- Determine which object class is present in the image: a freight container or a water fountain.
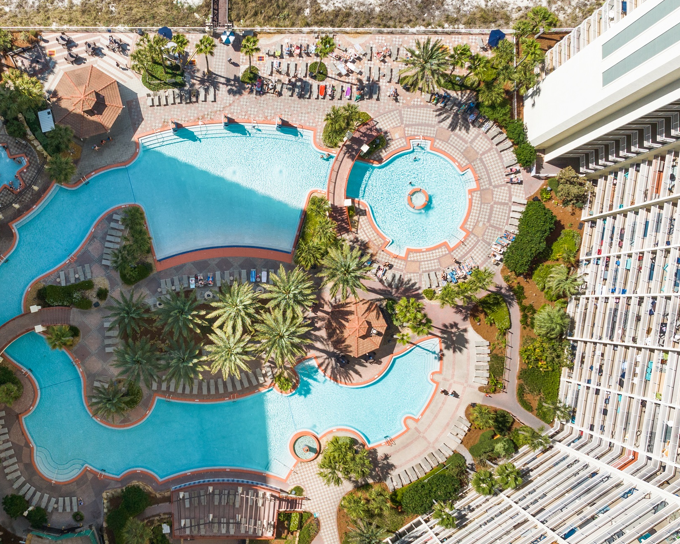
water fountain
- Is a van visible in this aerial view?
No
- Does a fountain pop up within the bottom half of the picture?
Yes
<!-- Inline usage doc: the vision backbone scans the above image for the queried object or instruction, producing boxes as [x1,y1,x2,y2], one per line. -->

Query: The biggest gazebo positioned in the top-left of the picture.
[48,63,124,139]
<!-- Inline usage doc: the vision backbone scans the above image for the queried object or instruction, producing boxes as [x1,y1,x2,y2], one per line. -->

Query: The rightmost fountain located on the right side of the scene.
[407,187,430,209]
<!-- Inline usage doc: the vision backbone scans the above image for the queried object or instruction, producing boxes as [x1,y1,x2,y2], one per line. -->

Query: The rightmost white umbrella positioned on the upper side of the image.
[221,31,235,46]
